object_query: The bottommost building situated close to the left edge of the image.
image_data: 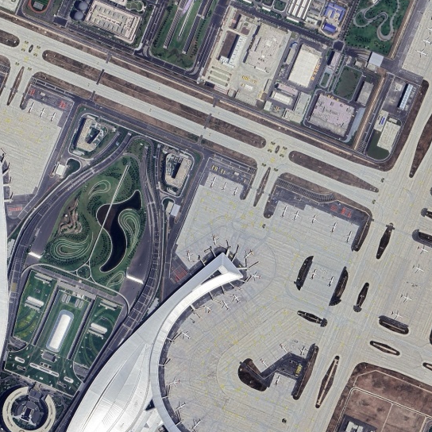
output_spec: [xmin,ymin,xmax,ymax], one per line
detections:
[2,387,55,432]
